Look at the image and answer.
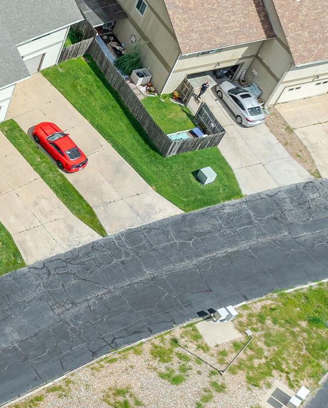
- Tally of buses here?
zero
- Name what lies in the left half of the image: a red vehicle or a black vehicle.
red vehicle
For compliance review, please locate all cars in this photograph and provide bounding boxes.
[33,120,90,172]
[218,79,272,127]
